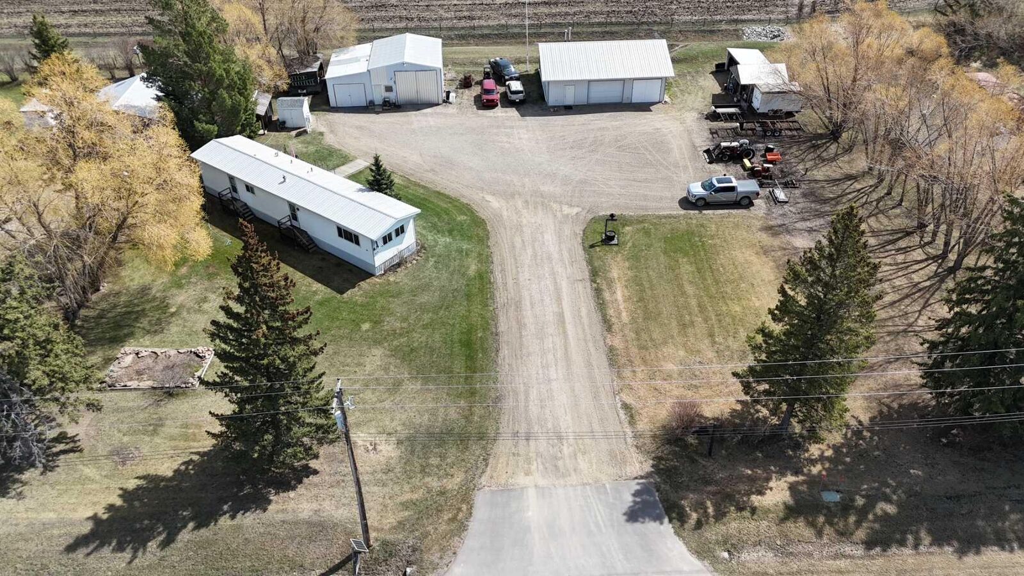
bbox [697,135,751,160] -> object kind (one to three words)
work vehicle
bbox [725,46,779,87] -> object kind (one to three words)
shed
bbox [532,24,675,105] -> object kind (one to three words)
building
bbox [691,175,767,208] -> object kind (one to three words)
truck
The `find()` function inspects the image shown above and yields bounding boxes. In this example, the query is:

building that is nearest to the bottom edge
[188,138,421,275]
